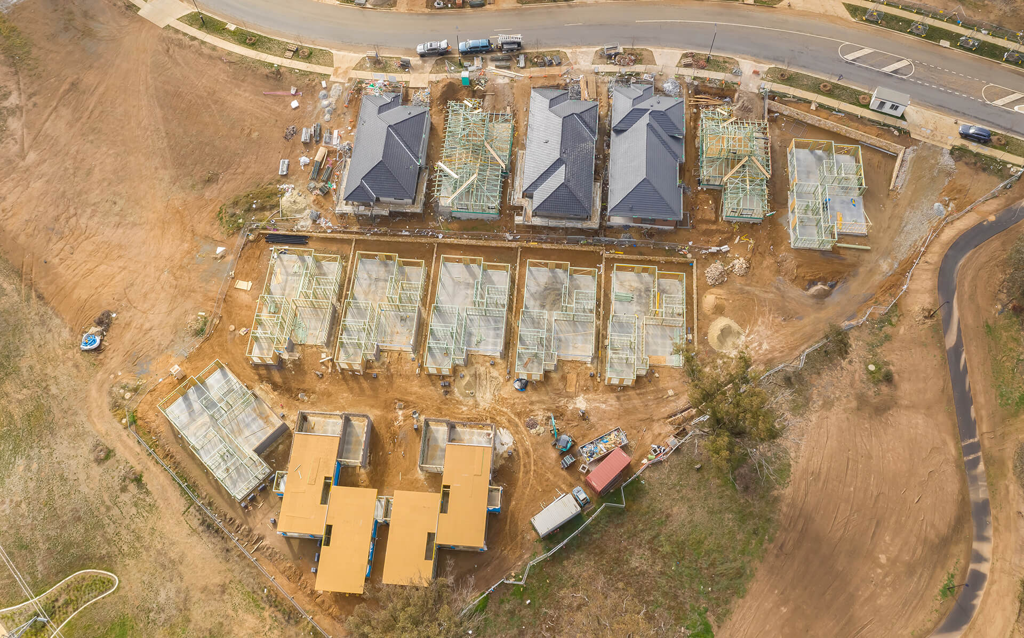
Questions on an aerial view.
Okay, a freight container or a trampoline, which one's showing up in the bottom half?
freight container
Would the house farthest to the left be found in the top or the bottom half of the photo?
bottom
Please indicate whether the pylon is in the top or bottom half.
bottom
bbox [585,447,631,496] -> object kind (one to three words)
shipping container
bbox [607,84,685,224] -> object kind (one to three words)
house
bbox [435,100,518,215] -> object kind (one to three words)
house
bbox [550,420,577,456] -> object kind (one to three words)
work vehicle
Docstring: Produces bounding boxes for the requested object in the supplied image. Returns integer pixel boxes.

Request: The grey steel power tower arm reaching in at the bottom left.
[7,615,48,638]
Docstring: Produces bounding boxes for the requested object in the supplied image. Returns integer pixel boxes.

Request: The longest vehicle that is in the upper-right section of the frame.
[960,122,995,141]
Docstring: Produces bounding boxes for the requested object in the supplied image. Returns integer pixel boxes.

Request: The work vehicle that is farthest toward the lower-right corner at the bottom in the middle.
[570,483,595,515]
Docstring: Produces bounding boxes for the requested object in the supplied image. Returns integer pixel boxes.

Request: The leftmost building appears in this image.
[157,360,286,500]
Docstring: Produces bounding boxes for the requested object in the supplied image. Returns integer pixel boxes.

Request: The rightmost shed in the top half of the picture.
[871,86,910,116]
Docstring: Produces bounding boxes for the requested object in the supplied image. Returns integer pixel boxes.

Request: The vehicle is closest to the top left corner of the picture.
[416,38,452,56]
